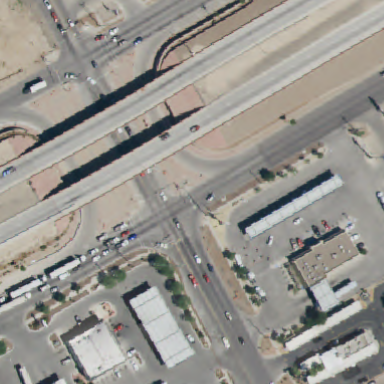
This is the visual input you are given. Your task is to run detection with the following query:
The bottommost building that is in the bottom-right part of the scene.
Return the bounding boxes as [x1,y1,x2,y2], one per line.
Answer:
[306,328,376,368]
